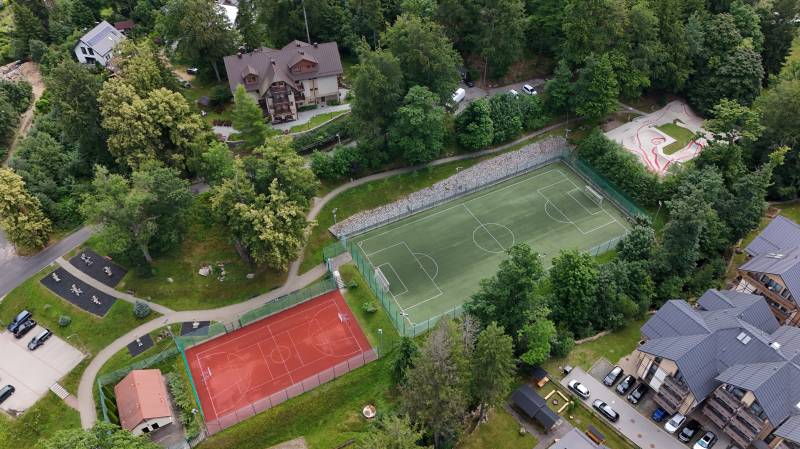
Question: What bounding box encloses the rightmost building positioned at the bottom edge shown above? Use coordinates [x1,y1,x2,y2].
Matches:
[637,288,800,449]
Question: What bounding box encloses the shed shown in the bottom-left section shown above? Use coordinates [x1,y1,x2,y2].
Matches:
[112,366,175,436]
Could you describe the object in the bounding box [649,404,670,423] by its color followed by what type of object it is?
blue car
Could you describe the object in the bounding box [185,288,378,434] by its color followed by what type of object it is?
red sports court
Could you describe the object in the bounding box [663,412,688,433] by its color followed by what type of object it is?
white car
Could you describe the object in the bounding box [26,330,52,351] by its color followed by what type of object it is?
gray car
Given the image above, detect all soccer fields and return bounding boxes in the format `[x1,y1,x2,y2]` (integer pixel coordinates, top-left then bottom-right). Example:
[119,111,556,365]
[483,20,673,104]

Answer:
[339,159,638,339]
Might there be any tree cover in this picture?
Yes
